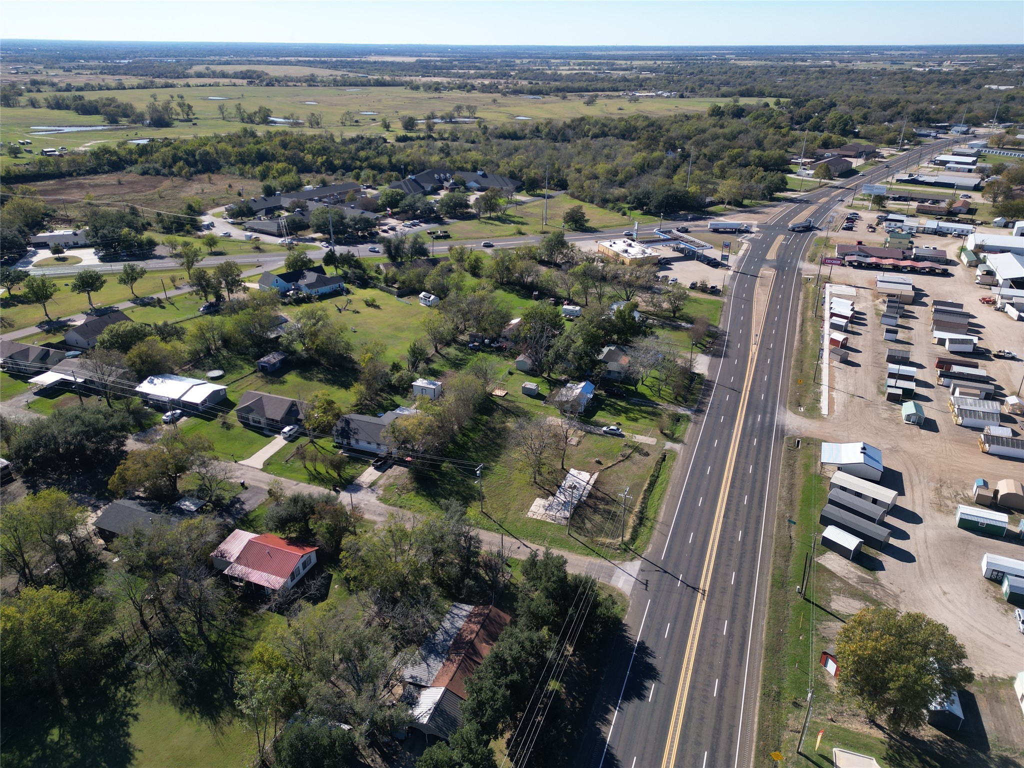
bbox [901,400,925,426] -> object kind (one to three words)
shed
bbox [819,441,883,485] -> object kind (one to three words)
barn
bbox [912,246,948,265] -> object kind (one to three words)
building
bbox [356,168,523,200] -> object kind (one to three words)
house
